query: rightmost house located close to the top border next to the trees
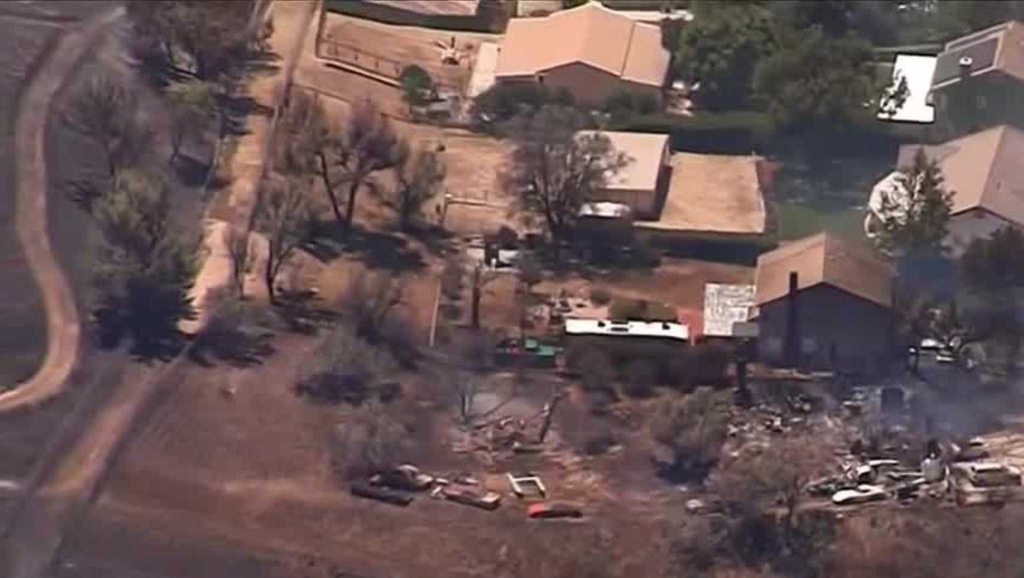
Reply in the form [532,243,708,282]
[927,18,1024,135]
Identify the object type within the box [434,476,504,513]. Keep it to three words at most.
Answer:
vehicle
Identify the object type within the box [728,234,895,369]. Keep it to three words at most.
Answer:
house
